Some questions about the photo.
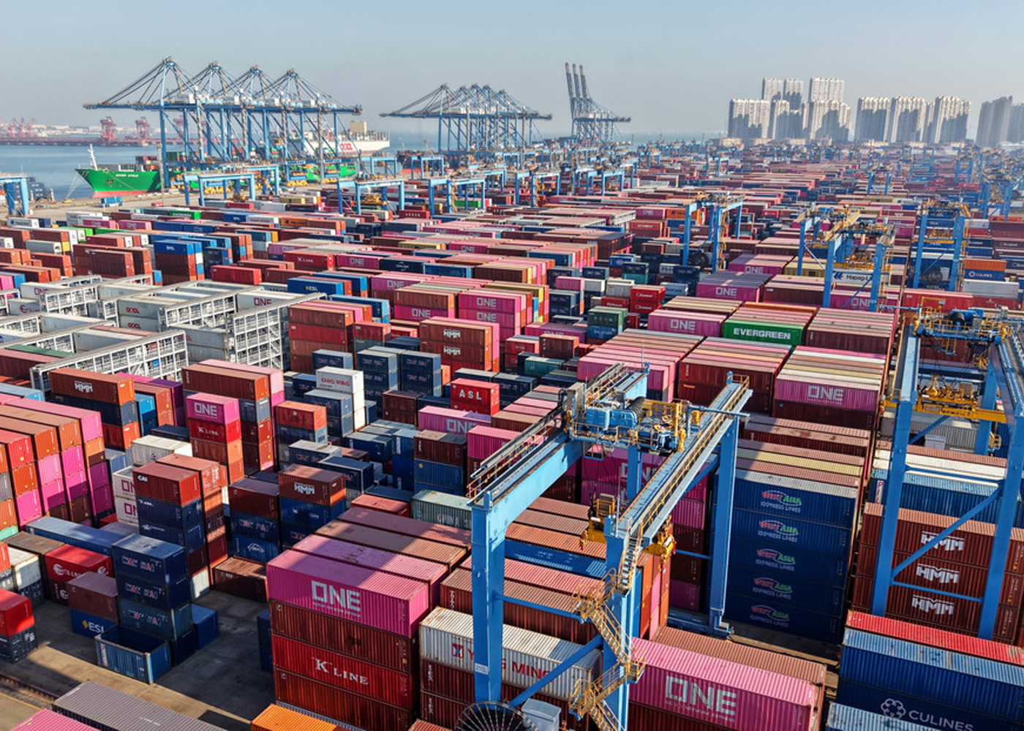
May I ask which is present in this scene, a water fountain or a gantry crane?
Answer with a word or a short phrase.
gantry crane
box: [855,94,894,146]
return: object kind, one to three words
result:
building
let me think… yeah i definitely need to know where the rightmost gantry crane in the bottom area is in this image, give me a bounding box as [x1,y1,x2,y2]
[869,298,1024,633]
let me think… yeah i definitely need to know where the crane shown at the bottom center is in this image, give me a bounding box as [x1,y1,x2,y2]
[450,334,769,731]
